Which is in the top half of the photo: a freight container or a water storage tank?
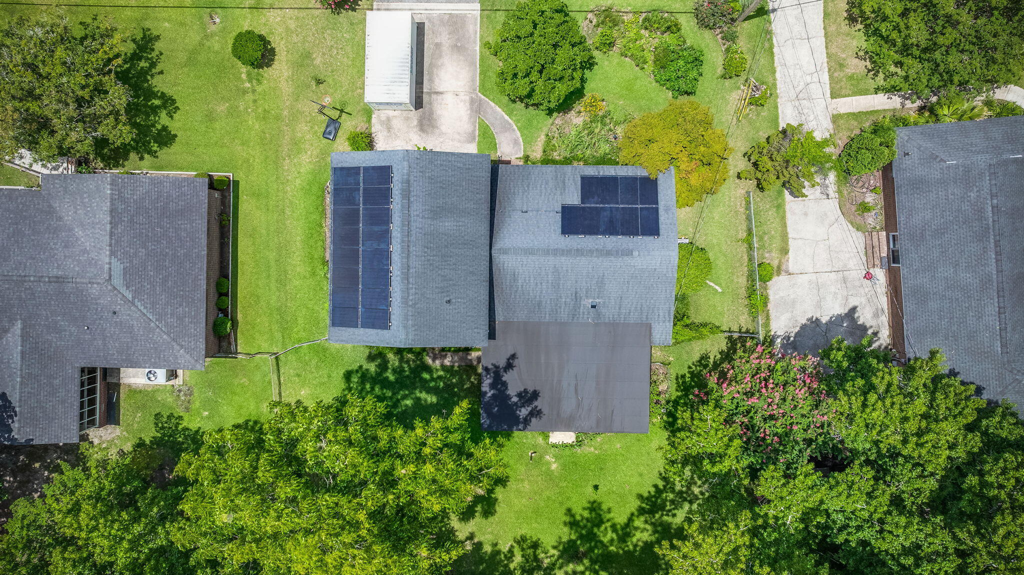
freight container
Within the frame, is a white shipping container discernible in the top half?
Yes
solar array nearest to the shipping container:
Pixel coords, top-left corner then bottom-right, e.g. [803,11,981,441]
[331,165,393,329]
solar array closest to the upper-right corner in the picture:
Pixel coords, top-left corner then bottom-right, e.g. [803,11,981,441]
[561,176,659,238]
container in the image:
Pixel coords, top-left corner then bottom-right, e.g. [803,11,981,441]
[365,11,418,112]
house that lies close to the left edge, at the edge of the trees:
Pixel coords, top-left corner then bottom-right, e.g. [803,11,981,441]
[0,173,221,446]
